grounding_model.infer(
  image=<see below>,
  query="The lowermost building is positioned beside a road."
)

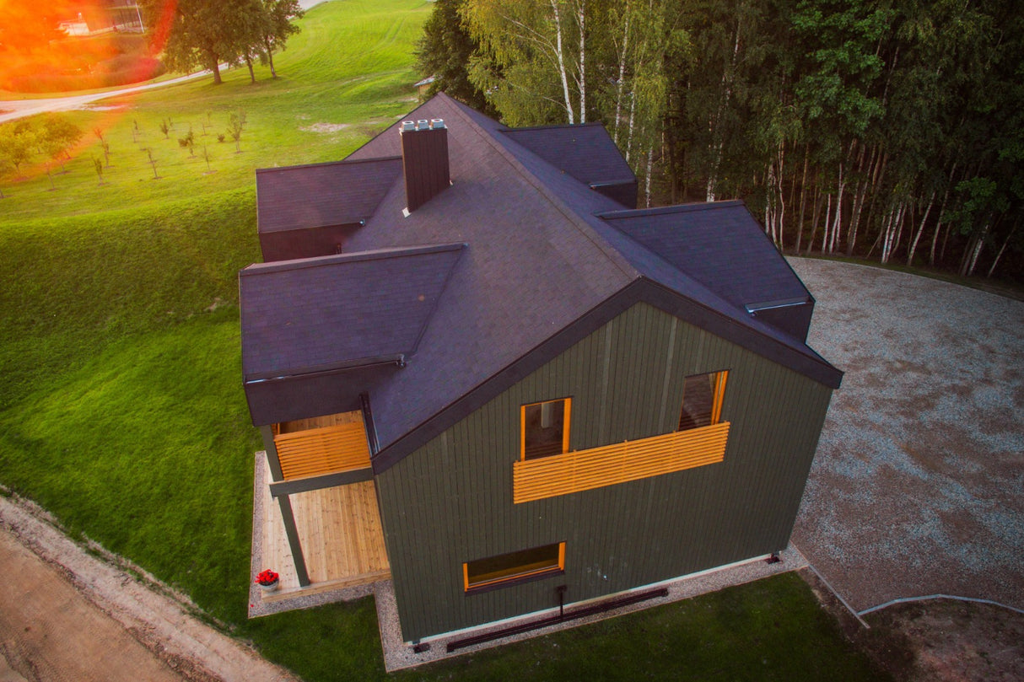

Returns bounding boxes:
[239,90,847,646]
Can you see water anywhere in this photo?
No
